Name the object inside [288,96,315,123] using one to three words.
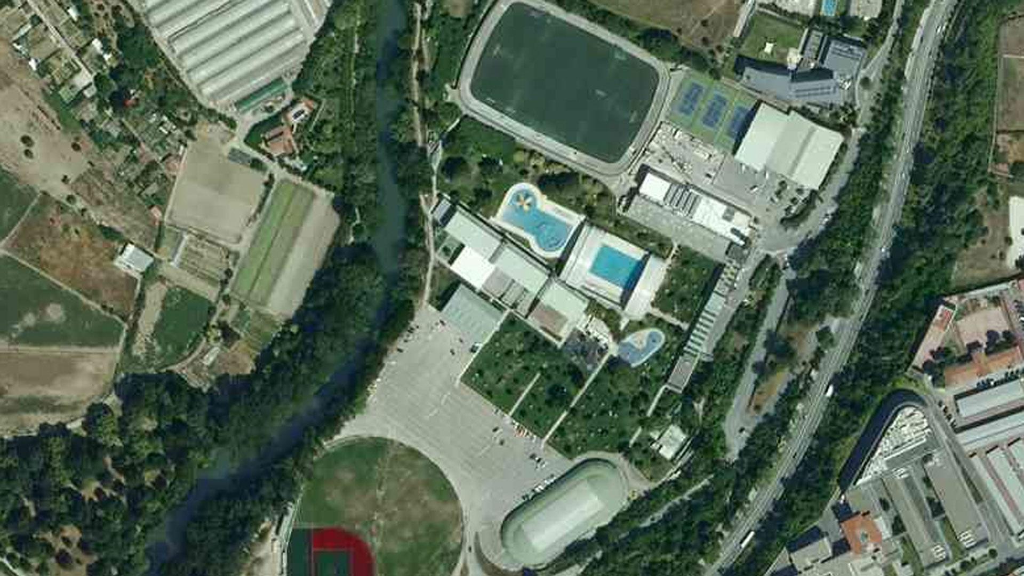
house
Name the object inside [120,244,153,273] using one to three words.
barn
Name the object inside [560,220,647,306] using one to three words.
swimming pool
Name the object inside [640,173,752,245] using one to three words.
building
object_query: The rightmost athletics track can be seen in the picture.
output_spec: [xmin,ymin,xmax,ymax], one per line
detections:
[458,0,670,176]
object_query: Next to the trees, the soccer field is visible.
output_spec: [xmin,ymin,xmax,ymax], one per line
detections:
[470,2,659,163]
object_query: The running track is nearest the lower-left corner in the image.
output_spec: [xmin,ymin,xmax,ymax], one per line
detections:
[313,527,376,576]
